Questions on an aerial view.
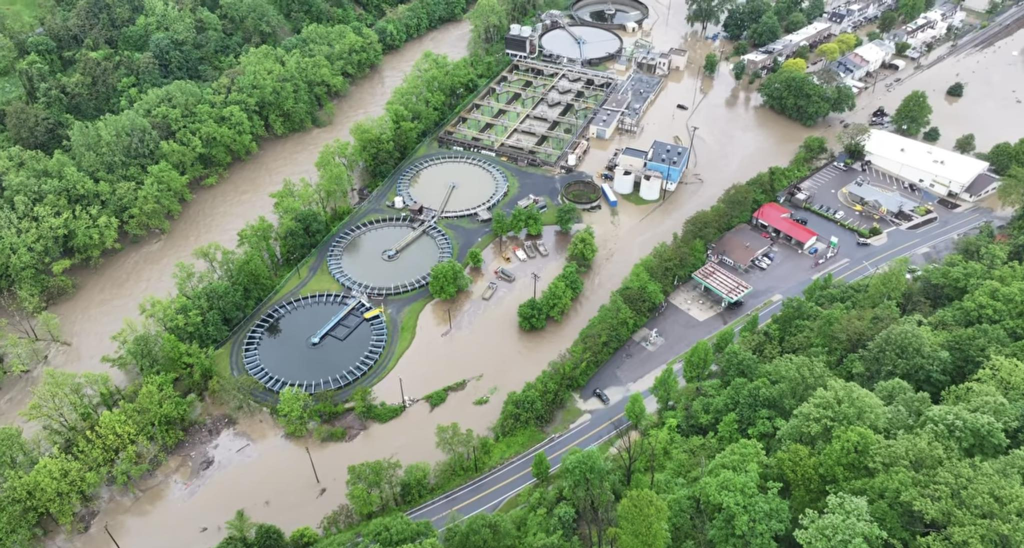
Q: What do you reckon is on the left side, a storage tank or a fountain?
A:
storage tank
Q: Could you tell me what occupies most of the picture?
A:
trees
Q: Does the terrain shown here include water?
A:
Yes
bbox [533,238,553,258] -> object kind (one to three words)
vehicle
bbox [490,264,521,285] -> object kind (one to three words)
truck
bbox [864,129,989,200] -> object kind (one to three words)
building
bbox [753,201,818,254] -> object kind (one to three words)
building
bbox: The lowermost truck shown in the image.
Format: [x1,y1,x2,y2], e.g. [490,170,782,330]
[591,386,613,407]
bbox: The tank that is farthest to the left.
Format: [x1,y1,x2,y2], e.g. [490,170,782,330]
[241,289,388,397]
